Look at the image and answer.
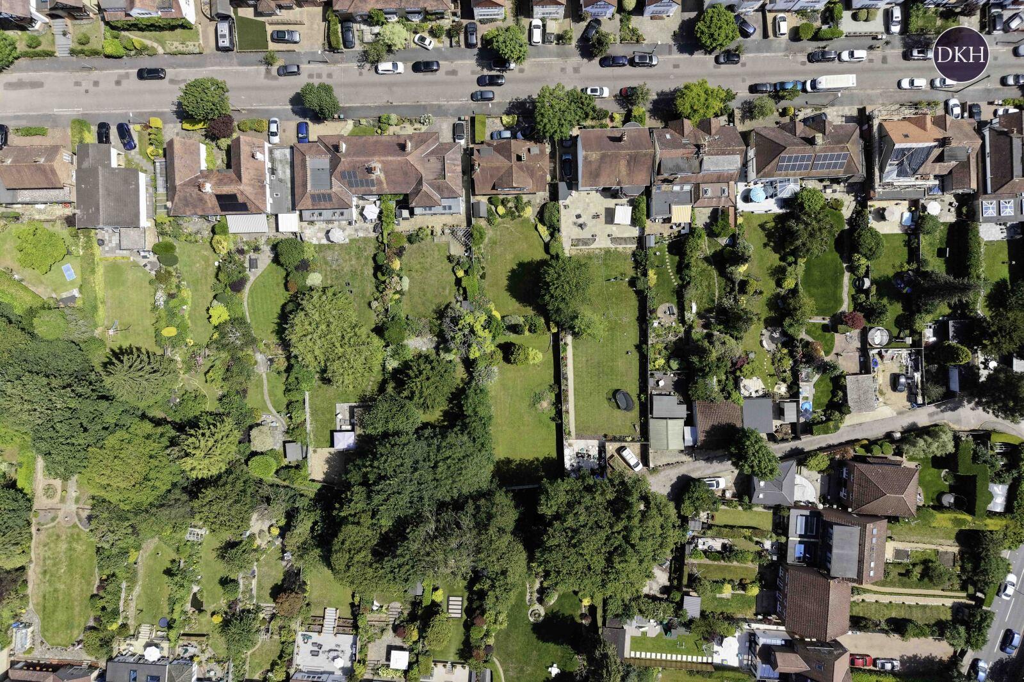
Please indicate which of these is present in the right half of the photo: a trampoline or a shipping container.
trampoline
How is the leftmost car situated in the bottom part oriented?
diagonally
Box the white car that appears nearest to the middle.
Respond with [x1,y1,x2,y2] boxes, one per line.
[619,445,642,473]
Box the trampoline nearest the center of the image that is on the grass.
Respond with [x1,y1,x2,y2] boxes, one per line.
[615,391,632,411]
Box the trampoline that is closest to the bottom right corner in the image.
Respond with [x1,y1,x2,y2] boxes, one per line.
[940,491,963,508]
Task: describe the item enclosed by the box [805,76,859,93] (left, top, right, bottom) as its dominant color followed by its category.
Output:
white vehicle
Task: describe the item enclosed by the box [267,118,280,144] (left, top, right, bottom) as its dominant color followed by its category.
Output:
white vehicle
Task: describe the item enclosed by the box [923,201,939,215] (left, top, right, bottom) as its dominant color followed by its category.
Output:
white umbrella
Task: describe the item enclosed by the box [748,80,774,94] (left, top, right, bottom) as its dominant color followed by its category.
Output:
black car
